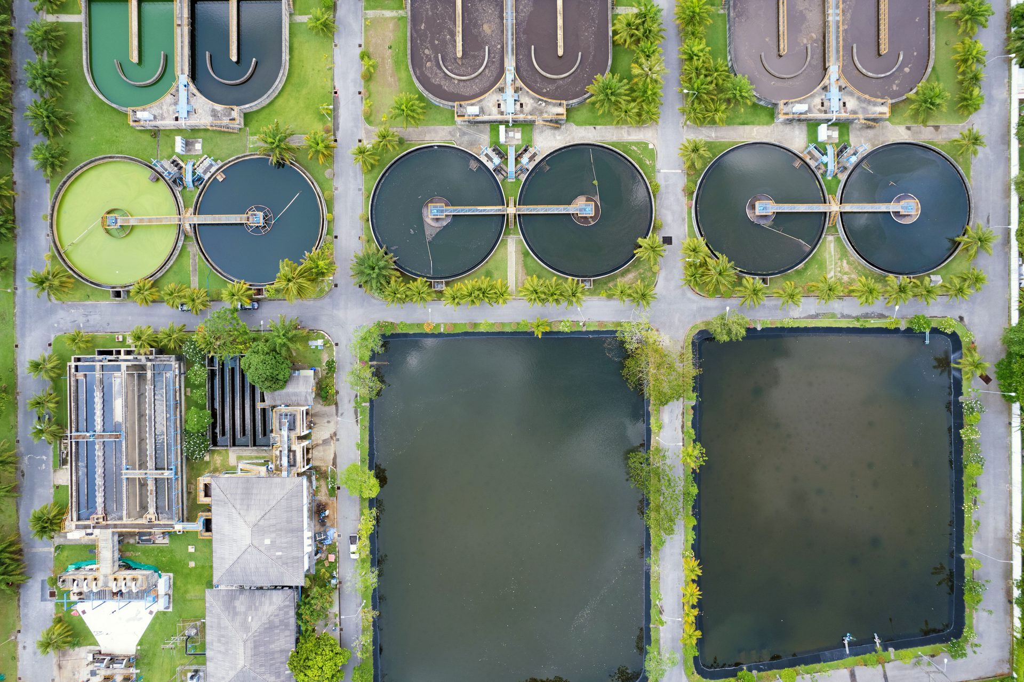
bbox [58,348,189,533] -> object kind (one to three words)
storage tank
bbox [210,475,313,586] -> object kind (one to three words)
building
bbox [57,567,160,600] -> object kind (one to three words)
building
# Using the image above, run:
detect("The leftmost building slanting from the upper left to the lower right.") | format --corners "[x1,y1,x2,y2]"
[151,156,187,190]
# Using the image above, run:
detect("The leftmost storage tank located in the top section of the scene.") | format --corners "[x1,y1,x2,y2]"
[51,155,189,297]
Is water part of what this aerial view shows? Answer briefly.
Yes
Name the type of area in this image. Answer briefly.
industrial area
